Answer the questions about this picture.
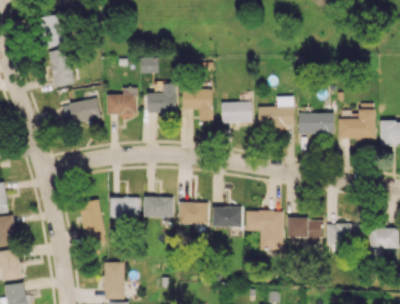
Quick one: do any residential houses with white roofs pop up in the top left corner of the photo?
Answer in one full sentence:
Yes, a residential house with a white roof is visible in the top left corner of the photo.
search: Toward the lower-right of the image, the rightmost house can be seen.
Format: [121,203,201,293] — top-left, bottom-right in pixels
[370,228,399,248]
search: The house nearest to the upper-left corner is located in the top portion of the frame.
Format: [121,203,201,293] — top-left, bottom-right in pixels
[42,16,60,46]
